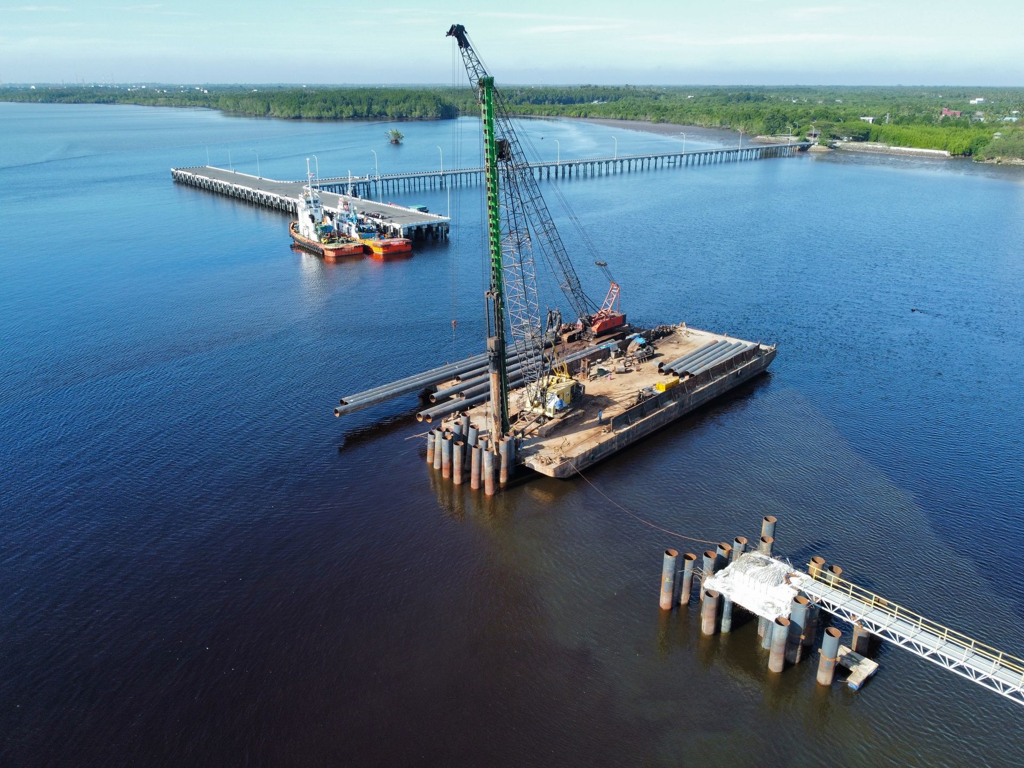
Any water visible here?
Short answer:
Yes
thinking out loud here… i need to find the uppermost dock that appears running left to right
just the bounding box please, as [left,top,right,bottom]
[274,142,815,190]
